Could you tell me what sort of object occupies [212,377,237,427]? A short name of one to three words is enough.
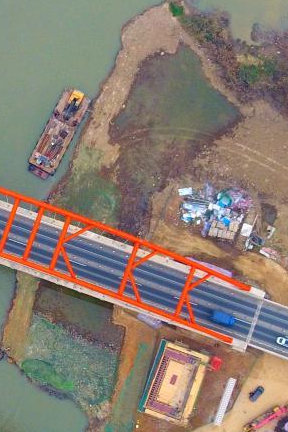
shed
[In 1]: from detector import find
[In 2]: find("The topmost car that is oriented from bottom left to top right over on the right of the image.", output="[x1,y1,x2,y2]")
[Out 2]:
[248,385,267,402]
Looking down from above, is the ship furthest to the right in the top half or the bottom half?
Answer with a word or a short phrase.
top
